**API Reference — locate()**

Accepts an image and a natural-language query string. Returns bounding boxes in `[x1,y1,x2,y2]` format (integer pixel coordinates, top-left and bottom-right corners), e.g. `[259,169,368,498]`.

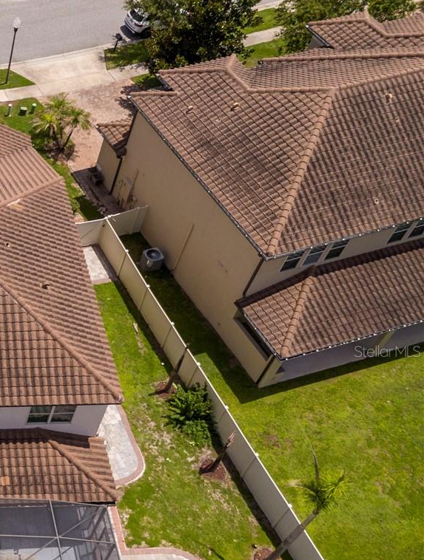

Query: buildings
[0,136,125,532]
[87,6,424,391]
